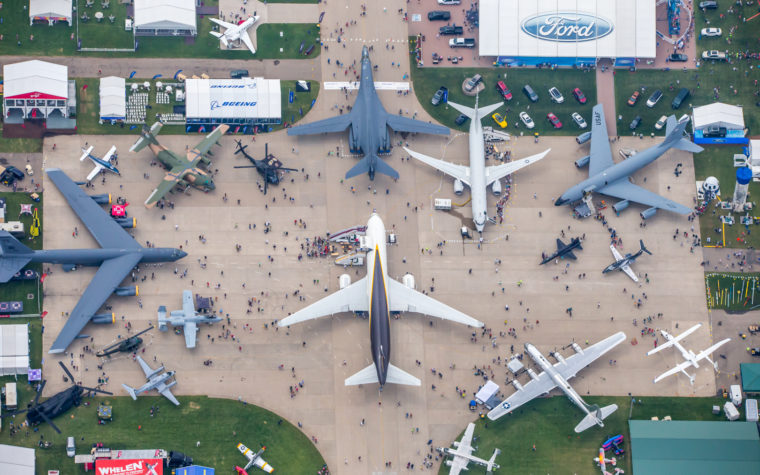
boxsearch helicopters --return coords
[93,327,152,357]
[30,209,39,238]
[232,133,298,192]
[0,361,113,431]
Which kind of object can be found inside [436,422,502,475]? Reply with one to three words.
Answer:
airplane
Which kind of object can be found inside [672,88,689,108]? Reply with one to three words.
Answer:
vehicle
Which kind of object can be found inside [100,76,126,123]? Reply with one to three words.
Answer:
tent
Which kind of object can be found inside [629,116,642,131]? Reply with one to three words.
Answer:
vehicle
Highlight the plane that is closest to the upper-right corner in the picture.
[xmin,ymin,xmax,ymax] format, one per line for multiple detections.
[557,96,707,215]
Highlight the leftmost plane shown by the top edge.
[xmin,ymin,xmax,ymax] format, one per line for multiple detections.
[209,16,260,56]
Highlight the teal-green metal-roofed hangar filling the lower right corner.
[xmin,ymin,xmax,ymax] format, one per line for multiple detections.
[627,419,760,475]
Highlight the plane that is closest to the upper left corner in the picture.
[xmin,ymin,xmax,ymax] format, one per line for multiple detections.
[80,146,122,181]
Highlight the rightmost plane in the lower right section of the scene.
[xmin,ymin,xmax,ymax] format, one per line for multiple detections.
[646,324,734,387]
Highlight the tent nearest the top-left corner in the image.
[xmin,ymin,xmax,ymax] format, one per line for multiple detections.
[27,0,75,26]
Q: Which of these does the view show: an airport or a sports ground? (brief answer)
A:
airport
